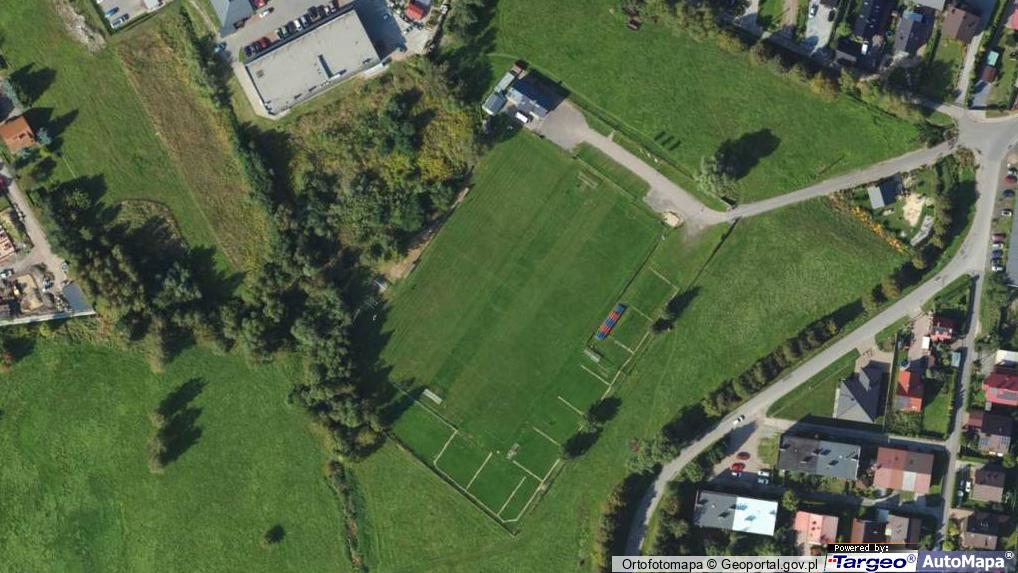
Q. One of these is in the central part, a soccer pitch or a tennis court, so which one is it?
soccer pitch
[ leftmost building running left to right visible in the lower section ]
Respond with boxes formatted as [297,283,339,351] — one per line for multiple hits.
[695,489,777,535]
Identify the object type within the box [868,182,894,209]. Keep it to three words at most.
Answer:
shed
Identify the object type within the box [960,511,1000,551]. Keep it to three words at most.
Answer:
house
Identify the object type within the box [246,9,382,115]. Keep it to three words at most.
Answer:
building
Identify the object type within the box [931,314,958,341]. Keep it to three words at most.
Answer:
house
